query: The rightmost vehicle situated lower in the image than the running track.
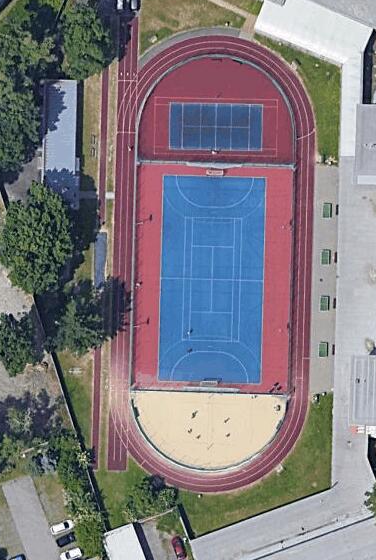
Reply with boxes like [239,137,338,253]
[172,536,187,559]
